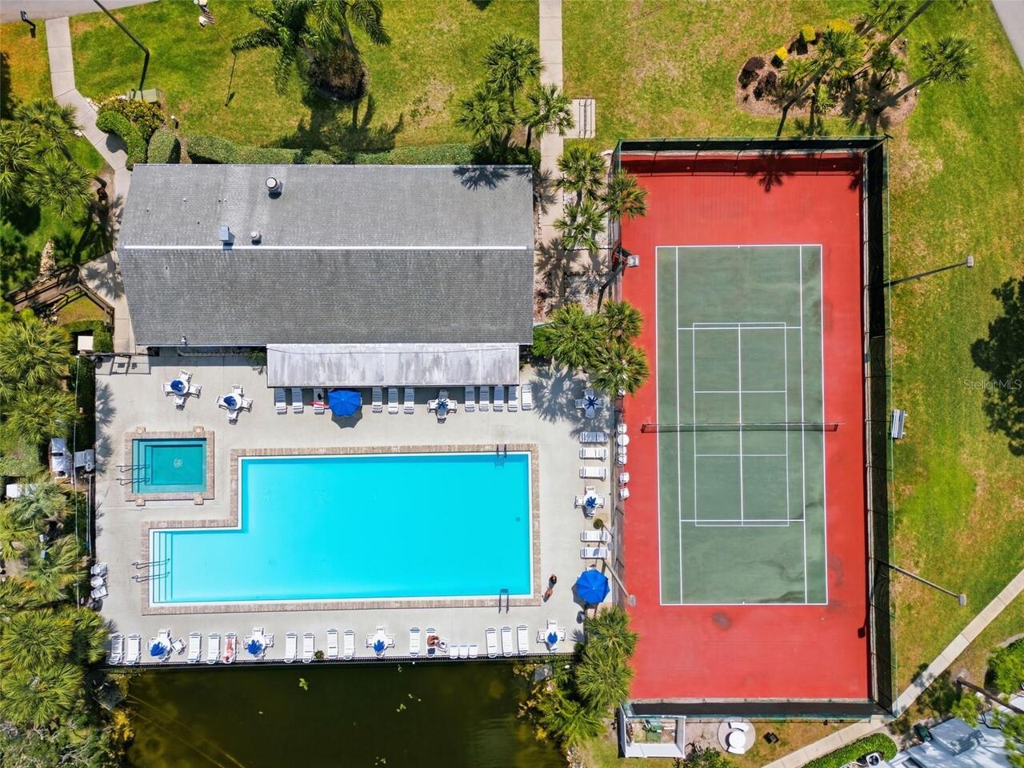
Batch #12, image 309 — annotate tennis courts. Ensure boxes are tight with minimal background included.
[614,152,875,704]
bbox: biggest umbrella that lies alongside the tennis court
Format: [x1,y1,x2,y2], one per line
[574,568,610,605]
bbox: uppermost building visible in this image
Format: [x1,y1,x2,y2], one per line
[118,163,535,347]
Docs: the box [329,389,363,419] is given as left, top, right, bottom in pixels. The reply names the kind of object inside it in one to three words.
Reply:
umbrella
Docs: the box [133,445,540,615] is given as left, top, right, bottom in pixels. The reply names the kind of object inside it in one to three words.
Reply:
swimming pool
